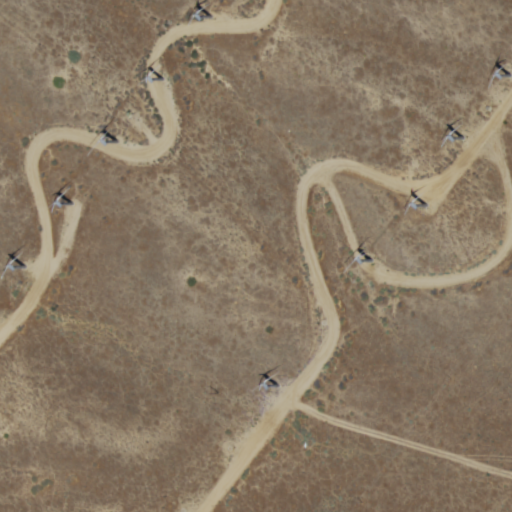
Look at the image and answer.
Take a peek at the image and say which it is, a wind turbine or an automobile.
wind turbine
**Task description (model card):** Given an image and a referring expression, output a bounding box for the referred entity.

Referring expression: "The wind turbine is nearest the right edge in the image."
[490,57,512,84]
